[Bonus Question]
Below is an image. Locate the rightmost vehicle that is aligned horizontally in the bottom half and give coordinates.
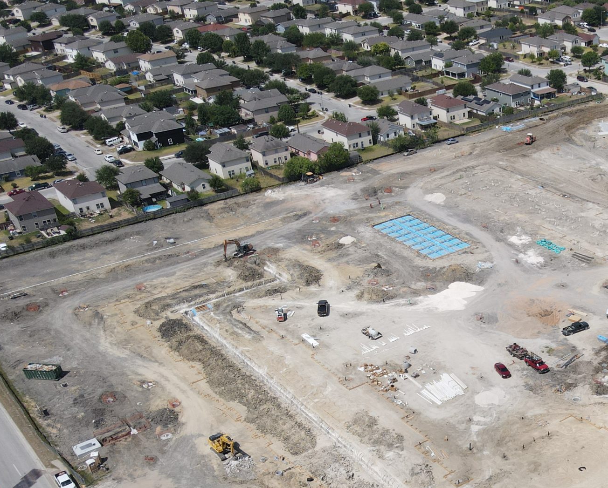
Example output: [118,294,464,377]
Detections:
[563,323,588,335]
